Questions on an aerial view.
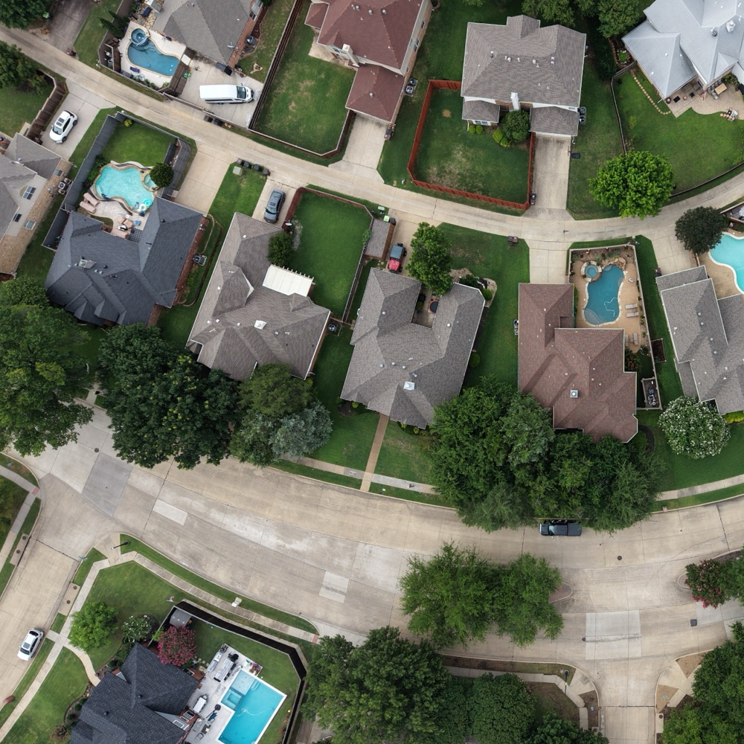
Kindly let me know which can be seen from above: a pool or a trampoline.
pool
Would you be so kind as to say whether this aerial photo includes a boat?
No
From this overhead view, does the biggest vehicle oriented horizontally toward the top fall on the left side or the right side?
left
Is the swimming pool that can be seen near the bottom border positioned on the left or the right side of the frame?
left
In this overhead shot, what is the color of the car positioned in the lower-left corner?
white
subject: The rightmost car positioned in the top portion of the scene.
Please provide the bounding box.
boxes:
[388,242,407,273]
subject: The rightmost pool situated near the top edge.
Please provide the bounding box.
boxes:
[126,24,183,79]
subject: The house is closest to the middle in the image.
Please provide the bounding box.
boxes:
[338,267,487,429]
